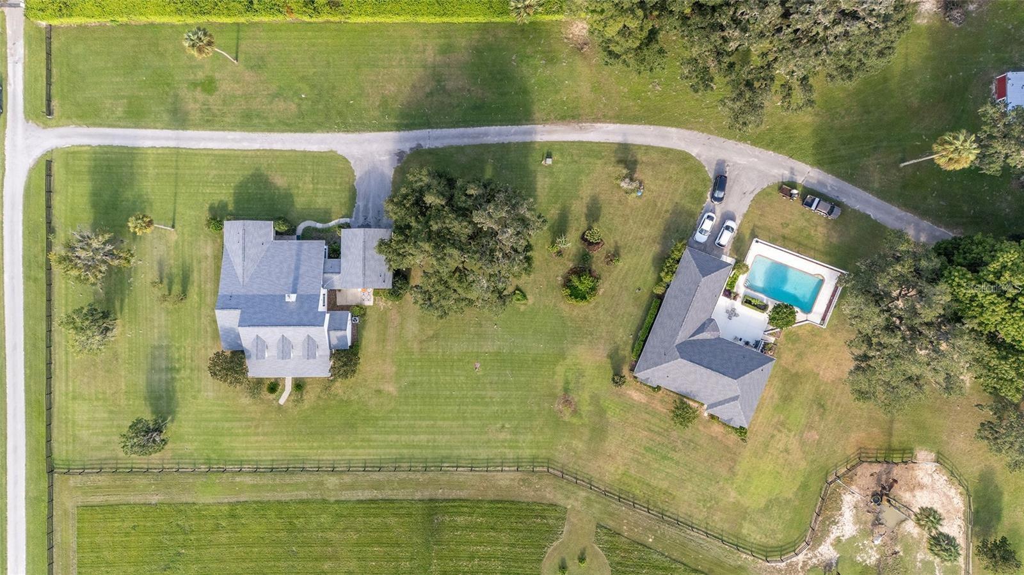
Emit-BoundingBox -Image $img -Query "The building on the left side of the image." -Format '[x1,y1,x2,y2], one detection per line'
[215,220,393,377]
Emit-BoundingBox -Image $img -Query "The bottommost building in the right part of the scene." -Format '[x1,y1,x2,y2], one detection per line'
[634,246,775,428]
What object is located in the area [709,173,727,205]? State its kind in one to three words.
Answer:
car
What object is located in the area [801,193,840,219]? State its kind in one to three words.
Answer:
truck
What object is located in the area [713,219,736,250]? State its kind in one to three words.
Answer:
car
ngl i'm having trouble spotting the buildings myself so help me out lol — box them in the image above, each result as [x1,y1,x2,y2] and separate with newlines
[634,246,775,428]
[215,220,393,377]
[994,68,1024,119]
